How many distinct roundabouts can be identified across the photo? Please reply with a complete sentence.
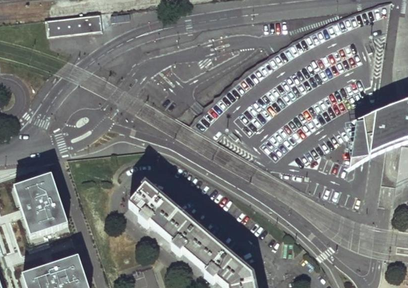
The photo contains no roundabouts.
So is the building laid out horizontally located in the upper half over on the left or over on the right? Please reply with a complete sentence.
It is on the left.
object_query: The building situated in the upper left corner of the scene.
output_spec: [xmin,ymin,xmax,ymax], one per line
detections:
[45,15,102,40]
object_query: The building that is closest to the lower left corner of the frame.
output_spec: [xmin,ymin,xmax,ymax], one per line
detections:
[20,254,88,288]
